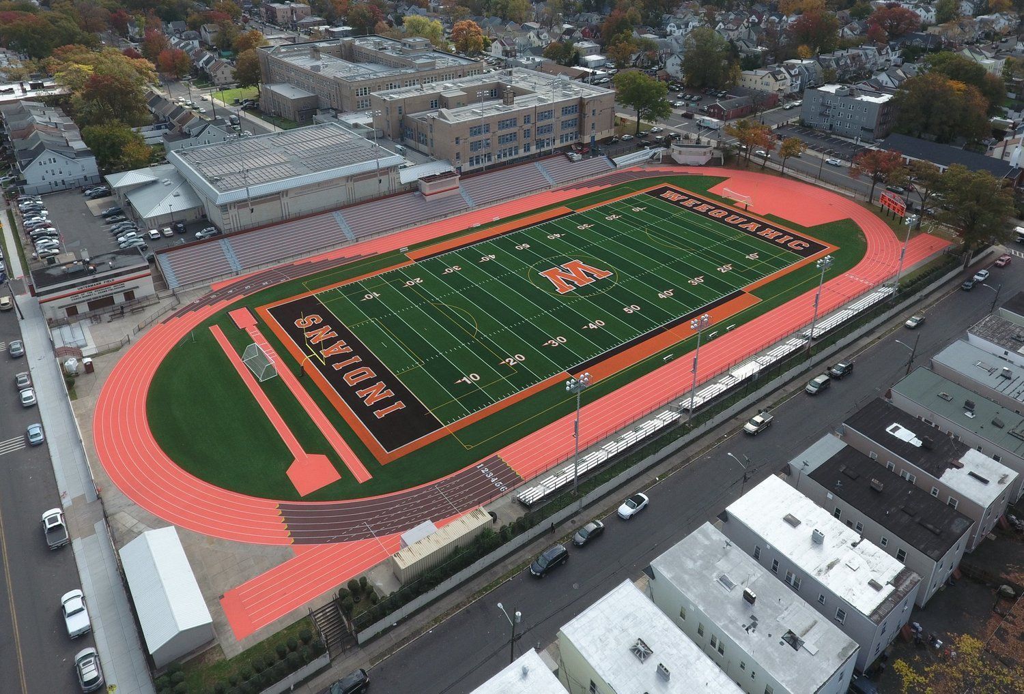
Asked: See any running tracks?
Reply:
Yes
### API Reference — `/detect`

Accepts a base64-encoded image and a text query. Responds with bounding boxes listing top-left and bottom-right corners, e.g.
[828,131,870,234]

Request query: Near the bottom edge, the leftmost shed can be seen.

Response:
[121,529,242,694]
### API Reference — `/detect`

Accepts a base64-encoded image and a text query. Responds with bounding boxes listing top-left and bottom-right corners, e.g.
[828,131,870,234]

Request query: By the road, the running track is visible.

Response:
[96,167,949,642]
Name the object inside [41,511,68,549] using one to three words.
truck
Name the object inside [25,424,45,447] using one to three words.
car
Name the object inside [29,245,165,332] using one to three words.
building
